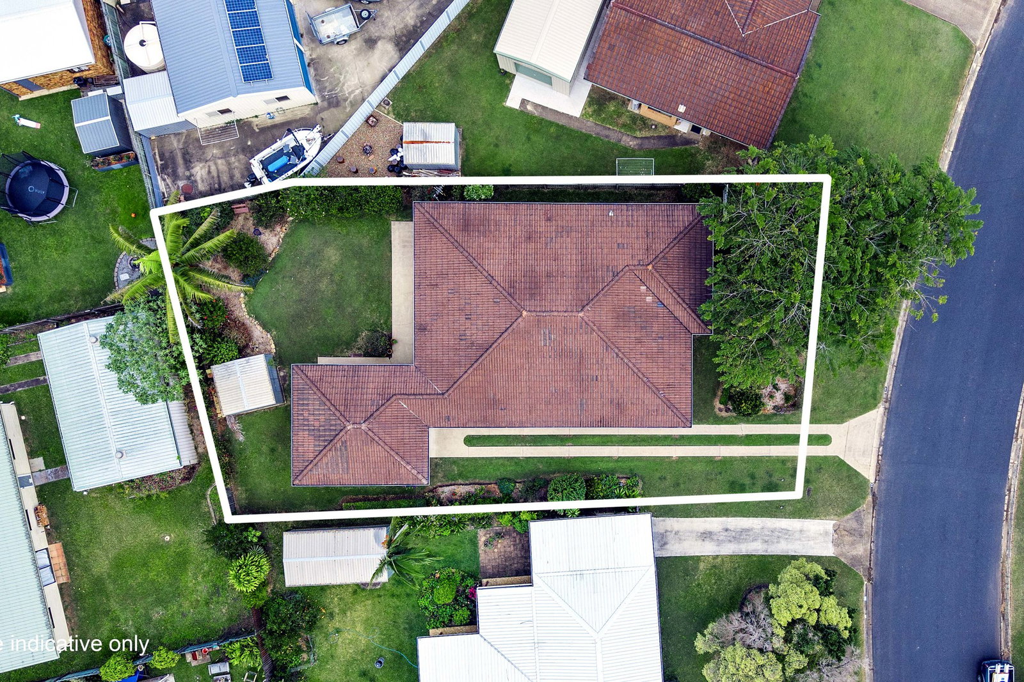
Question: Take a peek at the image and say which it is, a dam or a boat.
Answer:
boat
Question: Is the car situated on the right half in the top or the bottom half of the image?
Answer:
bottom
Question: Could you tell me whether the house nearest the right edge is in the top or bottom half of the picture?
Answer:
top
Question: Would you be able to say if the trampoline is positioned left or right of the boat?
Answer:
to the left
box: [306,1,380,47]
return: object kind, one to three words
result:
trailer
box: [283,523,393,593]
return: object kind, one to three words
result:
shed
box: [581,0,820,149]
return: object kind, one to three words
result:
house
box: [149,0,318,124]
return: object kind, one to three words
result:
building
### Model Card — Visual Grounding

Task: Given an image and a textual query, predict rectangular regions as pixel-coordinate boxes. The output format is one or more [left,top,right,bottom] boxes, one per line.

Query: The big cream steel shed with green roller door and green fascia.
[492,0,606,92]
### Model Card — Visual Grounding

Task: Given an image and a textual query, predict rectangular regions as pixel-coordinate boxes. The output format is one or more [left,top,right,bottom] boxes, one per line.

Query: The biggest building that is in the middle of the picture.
[290,199,715,488]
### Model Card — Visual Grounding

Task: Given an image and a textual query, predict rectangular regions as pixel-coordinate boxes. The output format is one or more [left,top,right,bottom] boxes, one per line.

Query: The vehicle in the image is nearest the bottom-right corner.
[973,659,1016,682]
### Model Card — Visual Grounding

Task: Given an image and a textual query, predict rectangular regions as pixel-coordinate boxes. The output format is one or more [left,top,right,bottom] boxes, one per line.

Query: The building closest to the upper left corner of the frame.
[0,0,115,96]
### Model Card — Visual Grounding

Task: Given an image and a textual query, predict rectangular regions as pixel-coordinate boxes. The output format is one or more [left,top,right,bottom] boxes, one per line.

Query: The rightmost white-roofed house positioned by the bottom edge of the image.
[415,509,665,682]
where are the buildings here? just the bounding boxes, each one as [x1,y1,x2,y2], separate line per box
[415,509,665,682]
[0,401,70,675]
[290,199,715,488]
[283,523,393,593]
[36,311,199,491]
[581,0,820,149]
[492,0,606,92]
[149,0,318,124]
[0,0,115,96]
[211,355,288,418]
[403,122,458,169]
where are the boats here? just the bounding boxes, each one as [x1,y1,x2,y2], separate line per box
[242,126,328,185]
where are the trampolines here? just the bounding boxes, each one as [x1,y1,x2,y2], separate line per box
[0,150,85,232]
